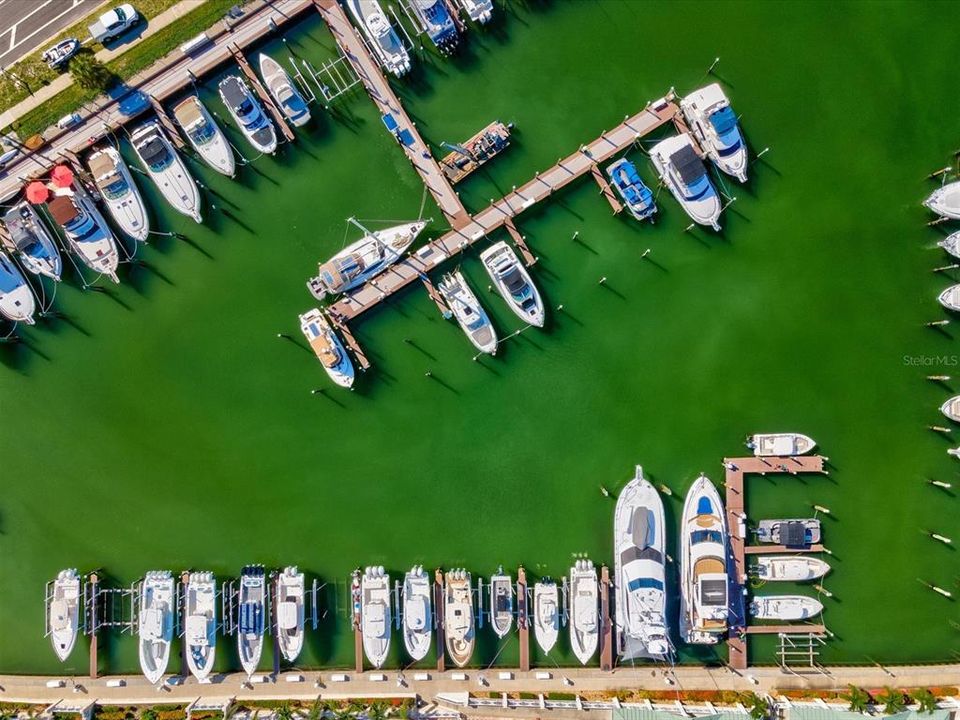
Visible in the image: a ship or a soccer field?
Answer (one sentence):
There is a ship in the scene.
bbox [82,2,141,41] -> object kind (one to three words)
truck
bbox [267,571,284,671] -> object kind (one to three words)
pier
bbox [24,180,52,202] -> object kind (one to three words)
umbrella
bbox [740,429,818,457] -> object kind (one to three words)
boat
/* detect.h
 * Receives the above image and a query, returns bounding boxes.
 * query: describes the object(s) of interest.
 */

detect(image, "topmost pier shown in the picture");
[441,0,468,36]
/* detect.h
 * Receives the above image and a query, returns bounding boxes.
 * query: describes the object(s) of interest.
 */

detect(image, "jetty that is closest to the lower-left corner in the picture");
[82,572,106,674]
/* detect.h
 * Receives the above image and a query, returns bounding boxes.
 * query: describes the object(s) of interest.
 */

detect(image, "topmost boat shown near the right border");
[920,172,960,224]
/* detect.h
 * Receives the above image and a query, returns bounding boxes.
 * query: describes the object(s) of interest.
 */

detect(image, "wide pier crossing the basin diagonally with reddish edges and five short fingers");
[331,95,707,368]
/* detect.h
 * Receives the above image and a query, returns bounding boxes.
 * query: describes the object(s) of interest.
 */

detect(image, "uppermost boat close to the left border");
[39,38,84,69]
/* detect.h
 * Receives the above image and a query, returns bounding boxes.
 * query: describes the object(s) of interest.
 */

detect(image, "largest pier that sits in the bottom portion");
[715,454,833,669]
